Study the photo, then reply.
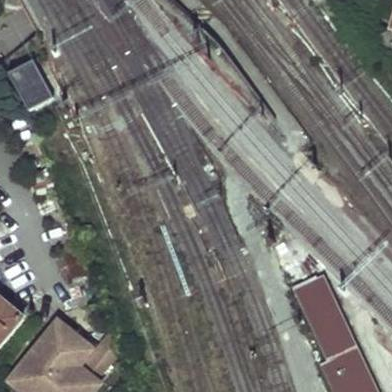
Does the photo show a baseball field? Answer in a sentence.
No, I find no baseball field anywhere in the image.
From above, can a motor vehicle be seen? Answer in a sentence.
Yes, the photo shows a motor vehicle.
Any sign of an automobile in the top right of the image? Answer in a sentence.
No, I can find no automobile in the top right of the image.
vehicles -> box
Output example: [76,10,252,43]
[53,282,70,302]
[41,227,66,242]
[0,186,12,205]
[0,234,17,249]
[0,212,18,230]
[8,270,36,291]
[4,248,24,264]
[16,284,37,300]
[2,260,29,280]
[41,294,52,316]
